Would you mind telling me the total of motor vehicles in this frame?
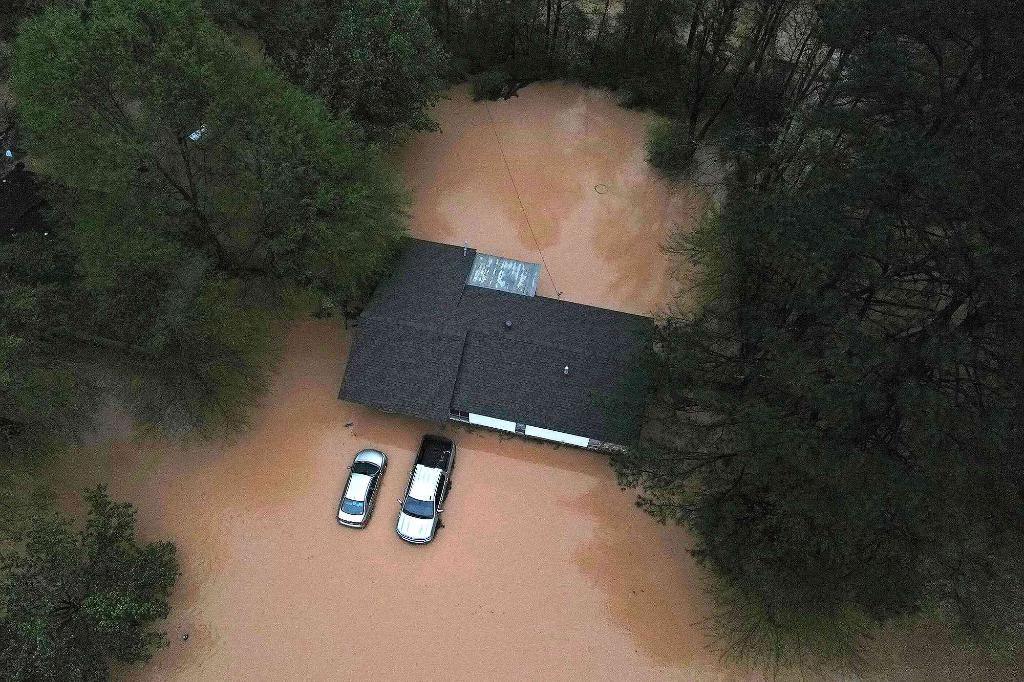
2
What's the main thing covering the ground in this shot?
trees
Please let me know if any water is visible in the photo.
Yes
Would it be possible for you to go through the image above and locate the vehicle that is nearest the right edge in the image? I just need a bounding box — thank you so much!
[397,434,458,546]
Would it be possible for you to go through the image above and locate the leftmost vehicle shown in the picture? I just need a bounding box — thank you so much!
[335,446,385,533]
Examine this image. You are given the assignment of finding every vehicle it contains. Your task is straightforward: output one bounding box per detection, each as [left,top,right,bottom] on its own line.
[397,434,458,546]
[335,446,385,533]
